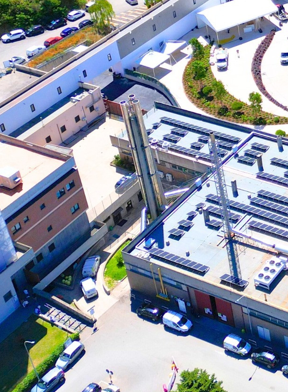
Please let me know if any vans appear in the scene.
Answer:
Yes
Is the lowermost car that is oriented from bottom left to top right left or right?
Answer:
left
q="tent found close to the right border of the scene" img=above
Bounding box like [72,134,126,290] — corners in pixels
[197,0,279,45]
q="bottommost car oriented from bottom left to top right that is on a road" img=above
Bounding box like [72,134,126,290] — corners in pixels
[32,366,67,392]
